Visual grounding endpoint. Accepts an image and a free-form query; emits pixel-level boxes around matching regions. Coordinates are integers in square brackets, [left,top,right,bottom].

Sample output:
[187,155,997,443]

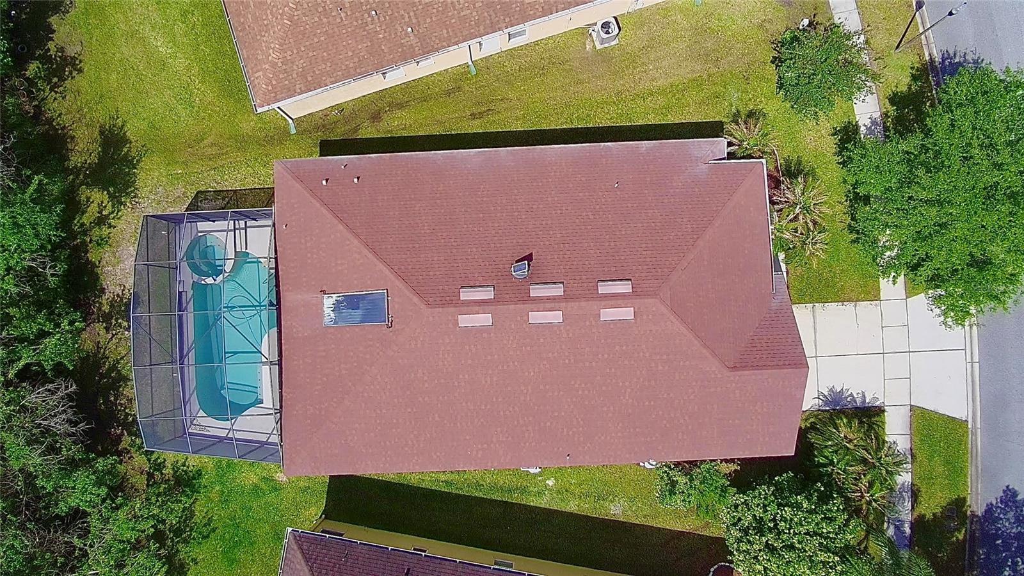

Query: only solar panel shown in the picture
[319,290,393,329]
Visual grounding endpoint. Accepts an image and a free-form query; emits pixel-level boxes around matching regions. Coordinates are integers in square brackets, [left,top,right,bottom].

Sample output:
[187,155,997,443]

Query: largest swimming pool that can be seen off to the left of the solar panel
[192,250,280,421]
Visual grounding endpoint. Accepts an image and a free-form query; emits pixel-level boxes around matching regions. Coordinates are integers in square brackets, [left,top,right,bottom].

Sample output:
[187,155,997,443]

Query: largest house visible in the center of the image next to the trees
[271,136,810,481]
